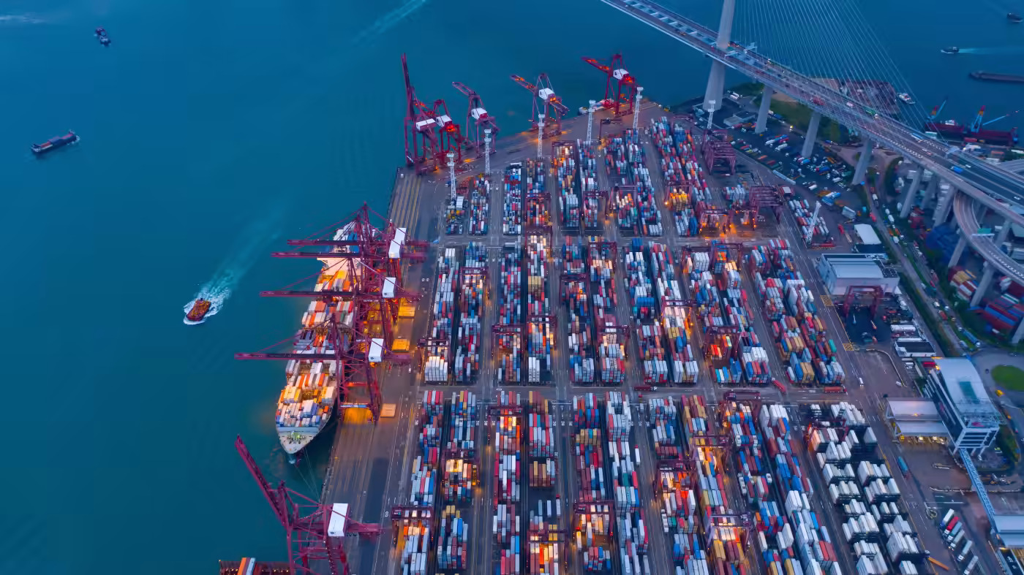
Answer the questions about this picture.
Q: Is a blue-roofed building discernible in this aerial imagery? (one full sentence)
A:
Yes, this view includes a blue-roofed building.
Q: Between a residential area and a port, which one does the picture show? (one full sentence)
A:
This image shows a port.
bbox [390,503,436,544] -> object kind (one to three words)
container crane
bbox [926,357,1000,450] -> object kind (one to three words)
building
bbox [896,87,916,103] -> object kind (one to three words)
vessel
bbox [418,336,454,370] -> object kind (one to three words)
container crane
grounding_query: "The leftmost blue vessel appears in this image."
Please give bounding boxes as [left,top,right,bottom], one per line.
[30,127,81,151]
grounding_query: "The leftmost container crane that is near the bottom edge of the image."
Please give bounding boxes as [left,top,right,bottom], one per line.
[233,437,377,575]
